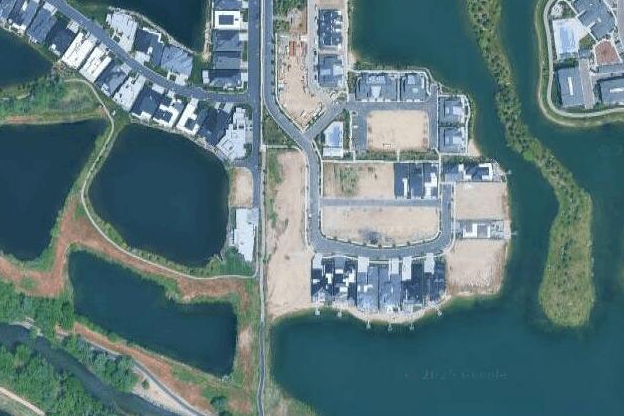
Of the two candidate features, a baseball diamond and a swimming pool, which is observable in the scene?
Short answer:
swimming pool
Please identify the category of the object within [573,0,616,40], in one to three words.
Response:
building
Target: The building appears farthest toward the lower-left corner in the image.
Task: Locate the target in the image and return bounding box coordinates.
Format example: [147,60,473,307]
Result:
[233,209,254,261]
